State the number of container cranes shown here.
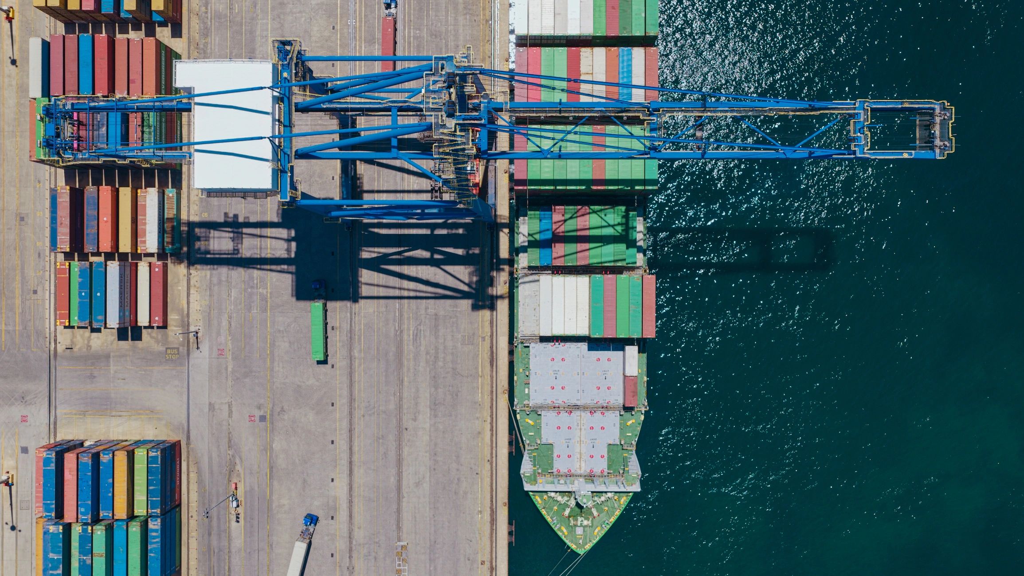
1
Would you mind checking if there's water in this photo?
Yes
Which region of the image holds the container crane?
top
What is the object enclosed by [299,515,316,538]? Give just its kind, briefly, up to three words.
work vehicle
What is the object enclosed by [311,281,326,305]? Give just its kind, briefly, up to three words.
work vehicle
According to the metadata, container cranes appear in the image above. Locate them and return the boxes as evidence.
[35,37,961,244]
